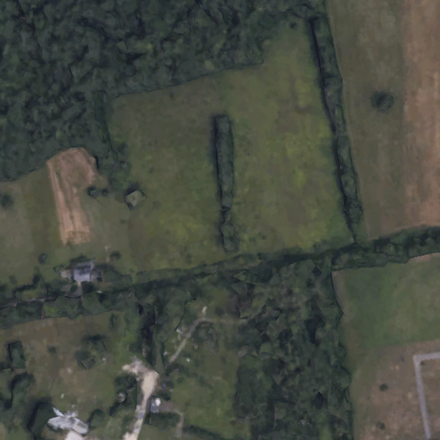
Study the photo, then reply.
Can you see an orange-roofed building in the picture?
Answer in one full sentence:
No, I can't see a single orange-roofed building in this photo.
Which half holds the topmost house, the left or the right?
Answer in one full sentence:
The topmost house is on the left side of the image.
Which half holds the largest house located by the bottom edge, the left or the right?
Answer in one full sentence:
The largest house located by the bottom edge appears in the left half of the scene.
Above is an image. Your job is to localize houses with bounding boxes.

[57,405,90,434]
[60,263,102,283]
